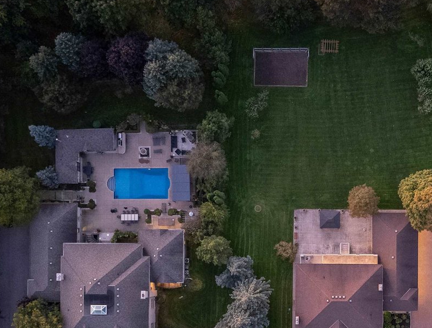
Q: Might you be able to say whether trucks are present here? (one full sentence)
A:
No, the photo shows no truck.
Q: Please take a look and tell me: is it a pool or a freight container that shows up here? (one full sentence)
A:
It is a pool that can be seen here.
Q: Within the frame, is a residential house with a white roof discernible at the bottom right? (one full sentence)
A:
No, at the bottom right there is no residential house with a white roof.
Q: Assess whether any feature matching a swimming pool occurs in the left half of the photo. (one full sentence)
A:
Yes, a swimming pool appears in the left half of the photo.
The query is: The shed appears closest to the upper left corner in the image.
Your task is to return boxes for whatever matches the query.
[55,128,116,184]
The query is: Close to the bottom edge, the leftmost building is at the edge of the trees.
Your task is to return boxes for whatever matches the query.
[27,203,186,328]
